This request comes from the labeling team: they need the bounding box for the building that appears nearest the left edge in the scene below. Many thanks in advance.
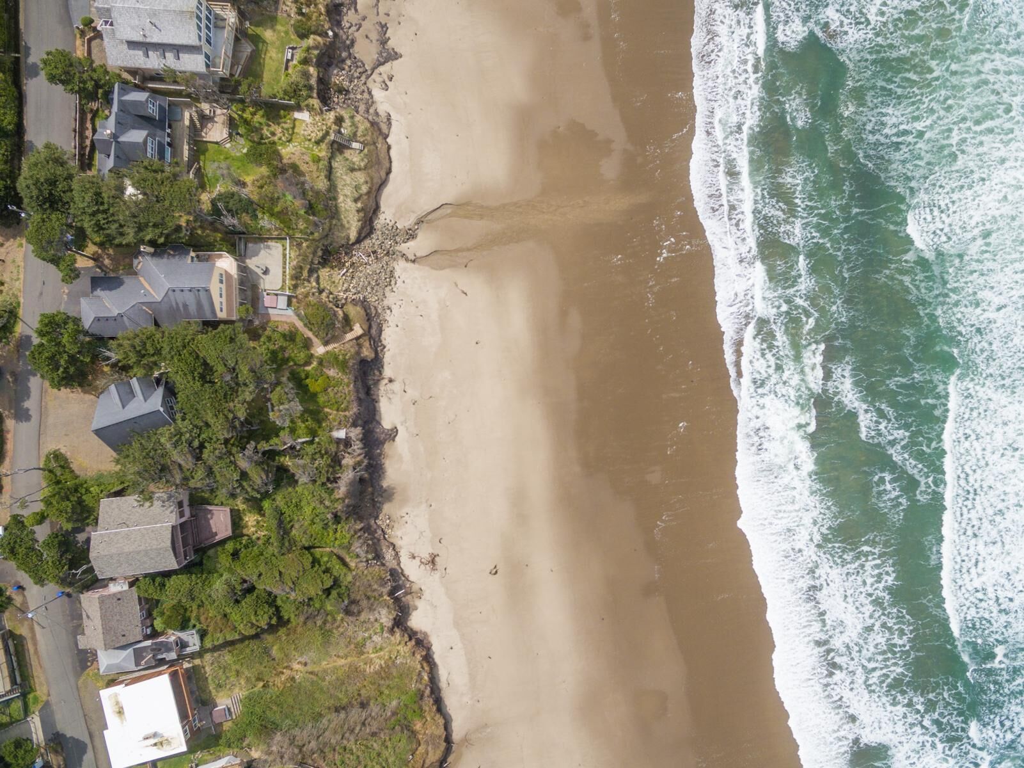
[0,626,33,703]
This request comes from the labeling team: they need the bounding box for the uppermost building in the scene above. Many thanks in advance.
[94,0,225,86]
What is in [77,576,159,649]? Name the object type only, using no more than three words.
house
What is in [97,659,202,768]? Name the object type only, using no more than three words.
house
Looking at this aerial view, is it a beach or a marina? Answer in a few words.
beach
